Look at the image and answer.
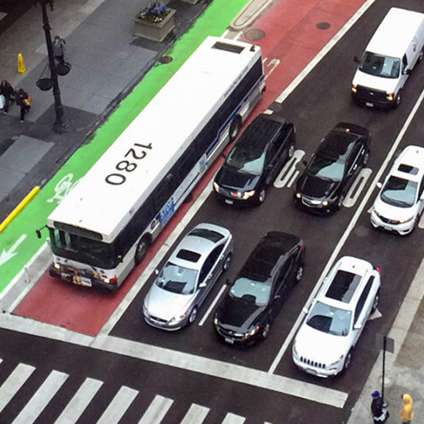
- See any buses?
Yes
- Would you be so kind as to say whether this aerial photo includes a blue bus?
No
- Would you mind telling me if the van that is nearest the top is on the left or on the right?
right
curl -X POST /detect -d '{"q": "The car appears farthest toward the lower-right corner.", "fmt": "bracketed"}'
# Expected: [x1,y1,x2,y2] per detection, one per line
[286,258,381,382]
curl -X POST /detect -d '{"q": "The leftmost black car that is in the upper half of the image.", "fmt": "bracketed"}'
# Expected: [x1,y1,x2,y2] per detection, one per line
[208,109,298,210]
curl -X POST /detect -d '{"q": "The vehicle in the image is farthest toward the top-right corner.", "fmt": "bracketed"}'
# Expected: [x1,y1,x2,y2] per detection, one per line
[345,9,424,112]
